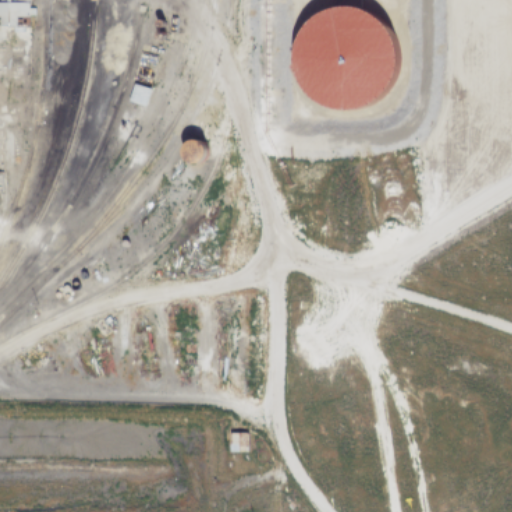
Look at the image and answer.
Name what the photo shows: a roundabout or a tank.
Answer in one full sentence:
It is a tank that can be seen here.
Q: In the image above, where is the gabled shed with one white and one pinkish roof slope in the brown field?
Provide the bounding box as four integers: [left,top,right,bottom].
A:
[230,432,250,452]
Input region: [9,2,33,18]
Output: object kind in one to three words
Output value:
building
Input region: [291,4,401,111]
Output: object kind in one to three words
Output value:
storage tank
